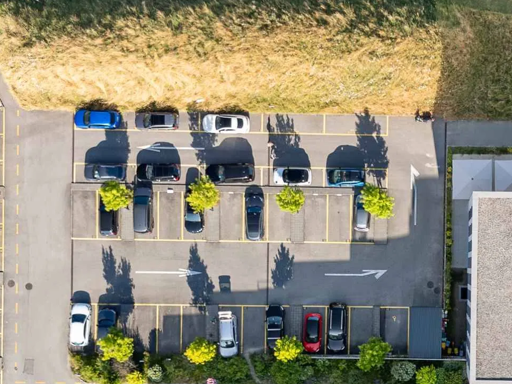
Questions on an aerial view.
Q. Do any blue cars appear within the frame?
Yes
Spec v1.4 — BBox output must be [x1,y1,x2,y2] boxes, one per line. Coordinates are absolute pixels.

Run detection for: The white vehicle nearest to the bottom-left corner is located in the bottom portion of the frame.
[69,302,93,348]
